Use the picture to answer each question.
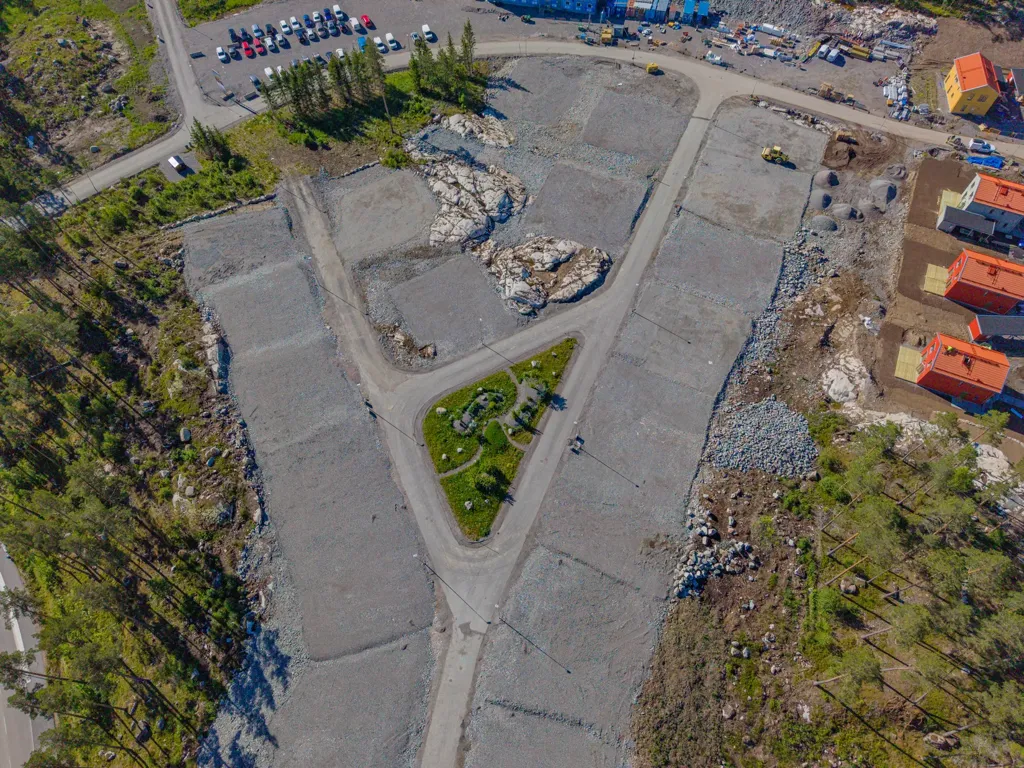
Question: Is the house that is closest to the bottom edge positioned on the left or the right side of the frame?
right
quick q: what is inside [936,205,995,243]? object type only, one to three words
shed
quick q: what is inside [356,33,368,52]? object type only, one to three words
vehicle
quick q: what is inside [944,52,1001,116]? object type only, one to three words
house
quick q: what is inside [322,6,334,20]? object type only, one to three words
vehicle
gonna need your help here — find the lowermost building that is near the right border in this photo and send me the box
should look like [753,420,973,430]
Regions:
[918,333,1010,404]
